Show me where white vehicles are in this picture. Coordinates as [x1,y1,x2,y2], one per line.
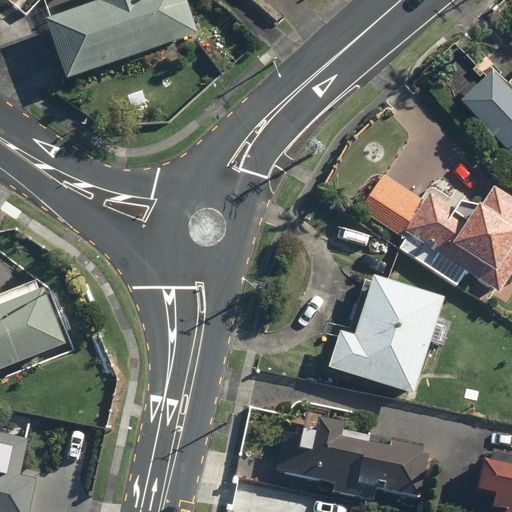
[336,227,373,248]
[298,296,324,326]
[492,433,512,446]
[68,428,86,462]
[313,500,346,512]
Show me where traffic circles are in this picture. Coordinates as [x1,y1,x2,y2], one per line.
[188,208,226,246]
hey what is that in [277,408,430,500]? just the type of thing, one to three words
house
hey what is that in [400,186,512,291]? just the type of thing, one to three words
house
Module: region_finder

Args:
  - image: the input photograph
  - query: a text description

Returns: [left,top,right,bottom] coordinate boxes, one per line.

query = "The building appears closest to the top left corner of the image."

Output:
[46,0,198,79]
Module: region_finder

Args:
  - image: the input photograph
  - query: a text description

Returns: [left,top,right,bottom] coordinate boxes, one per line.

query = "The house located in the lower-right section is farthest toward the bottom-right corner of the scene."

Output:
[478,452,512,510]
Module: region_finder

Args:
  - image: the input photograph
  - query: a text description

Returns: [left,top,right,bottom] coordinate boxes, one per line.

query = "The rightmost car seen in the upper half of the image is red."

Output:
[454,163,476,188]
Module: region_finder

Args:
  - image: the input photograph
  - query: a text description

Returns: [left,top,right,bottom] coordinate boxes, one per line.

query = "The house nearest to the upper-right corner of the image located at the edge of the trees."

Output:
[460,69,512,152]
